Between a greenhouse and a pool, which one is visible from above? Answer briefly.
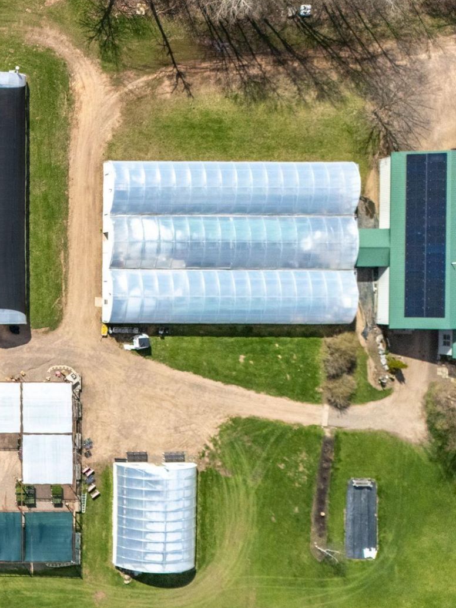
greenhouse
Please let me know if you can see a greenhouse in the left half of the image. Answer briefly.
Yes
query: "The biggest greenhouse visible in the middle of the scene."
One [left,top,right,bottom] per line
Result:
[99,161,368,323]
